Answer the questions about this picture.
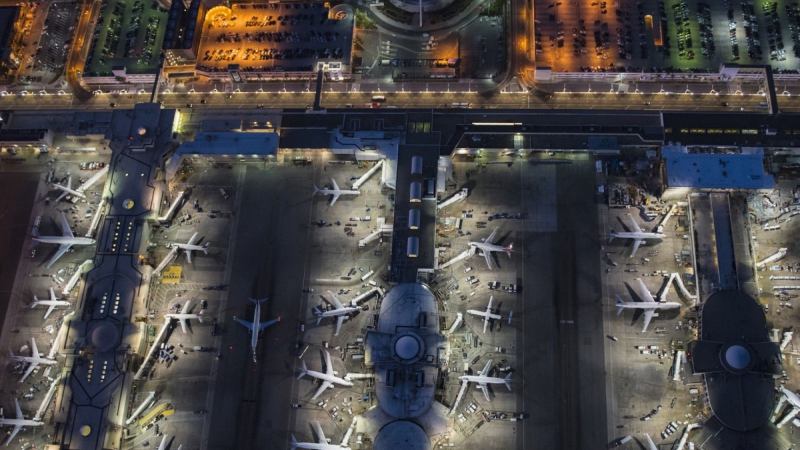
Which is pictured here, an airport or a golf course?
airport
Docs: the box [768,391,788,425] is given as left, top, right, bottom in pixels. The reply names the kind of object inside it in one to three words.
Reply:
jet bridge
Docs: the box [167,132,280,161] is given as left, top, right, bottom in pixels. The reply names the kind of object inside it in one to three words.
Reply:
building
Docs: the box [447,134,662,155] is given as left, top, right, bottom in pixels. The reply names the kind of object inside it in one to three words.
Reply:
building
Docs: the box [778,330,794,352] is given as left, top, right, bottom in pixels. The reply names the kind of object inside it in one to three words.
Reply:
jet bridge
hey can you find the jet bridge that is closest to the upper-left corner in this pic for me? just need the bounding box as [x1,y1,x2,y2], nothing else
[75,162,109,195]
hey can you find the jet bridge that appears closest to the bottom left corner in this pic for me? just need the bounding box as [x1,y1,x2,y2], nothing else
[33,370,67,421]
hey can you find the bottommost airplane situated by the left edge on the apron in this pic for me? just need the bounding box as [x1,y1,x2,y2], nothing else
[0,395,45,447]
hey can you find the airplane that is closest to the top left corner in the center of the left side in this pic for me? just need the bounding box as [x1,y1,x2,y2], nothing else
[51,176,86,201]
